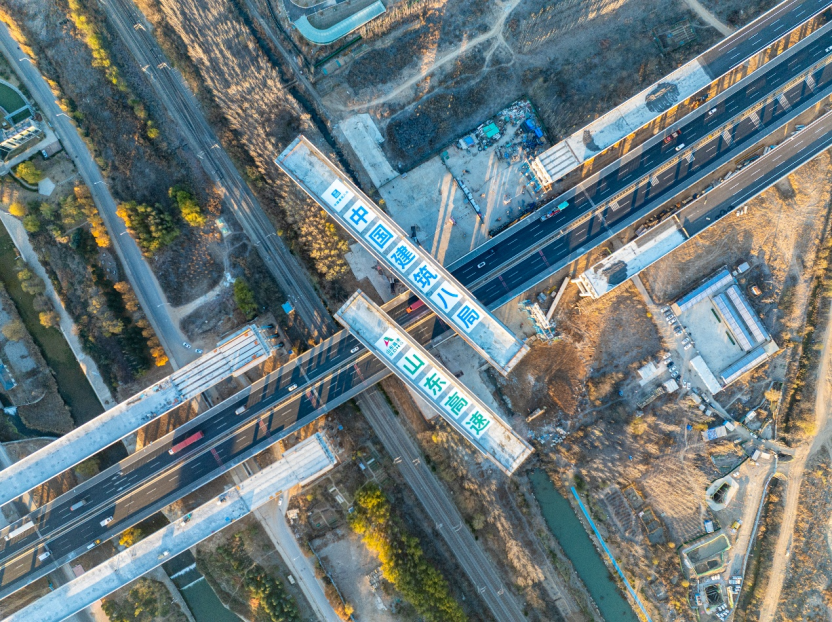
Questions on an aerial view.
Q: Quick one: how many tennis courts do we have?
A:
0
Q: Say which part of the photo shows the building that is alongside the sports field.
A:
top left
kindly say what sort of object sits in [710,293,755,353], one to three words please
building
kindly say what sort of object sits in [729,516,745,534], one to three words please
vehicle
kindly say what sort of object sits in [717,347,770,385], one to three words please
building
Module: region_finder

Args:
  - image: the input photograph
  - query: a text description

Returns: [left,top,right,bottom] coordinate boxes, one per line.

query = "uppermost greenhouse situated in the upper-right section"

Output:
[647,18,696,60]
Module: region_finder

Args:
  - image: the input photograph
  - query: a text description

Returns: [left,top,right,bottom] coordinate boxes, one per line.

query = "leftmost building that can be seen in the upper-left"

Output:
[0,110,41,151]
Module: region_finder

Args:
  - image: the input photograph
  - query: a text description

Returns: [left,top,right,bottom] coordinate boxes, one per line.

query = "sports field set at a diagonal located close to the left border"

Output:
[0,77,39,124]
